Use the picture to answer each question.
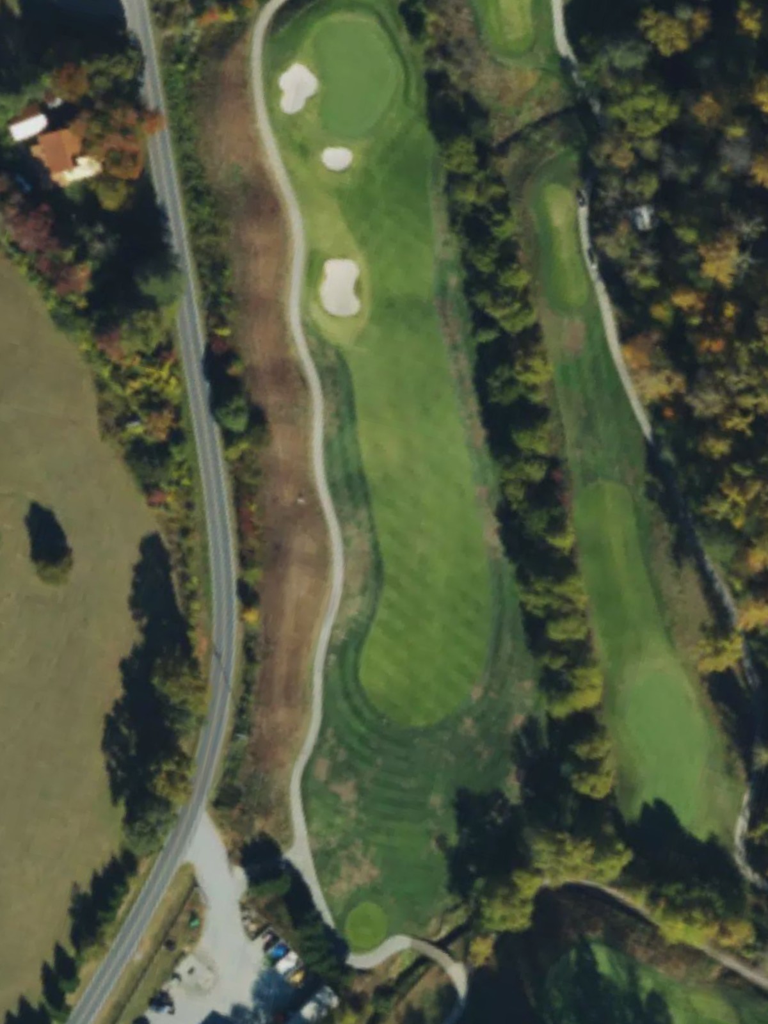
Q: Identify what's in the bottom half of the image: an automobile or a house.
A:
automobile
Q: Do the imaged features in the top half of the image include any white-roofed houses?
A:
Yes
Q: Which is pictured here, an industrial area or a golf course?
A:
golf course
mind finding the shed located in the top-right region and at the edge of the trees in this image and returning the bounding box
[635,205,653,228]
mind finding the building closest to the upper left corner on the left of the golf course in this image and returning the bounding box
[9,110,48,141]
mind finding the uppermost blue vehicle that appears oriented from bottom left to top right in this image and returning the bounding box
[268,941,287,958]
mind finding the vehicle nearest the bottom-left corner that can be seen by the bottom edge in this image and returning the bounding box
[148,993,173,1009]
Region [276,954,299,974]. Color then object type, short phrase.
white vehicle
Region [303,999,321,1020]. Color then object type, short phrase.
white vehicle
